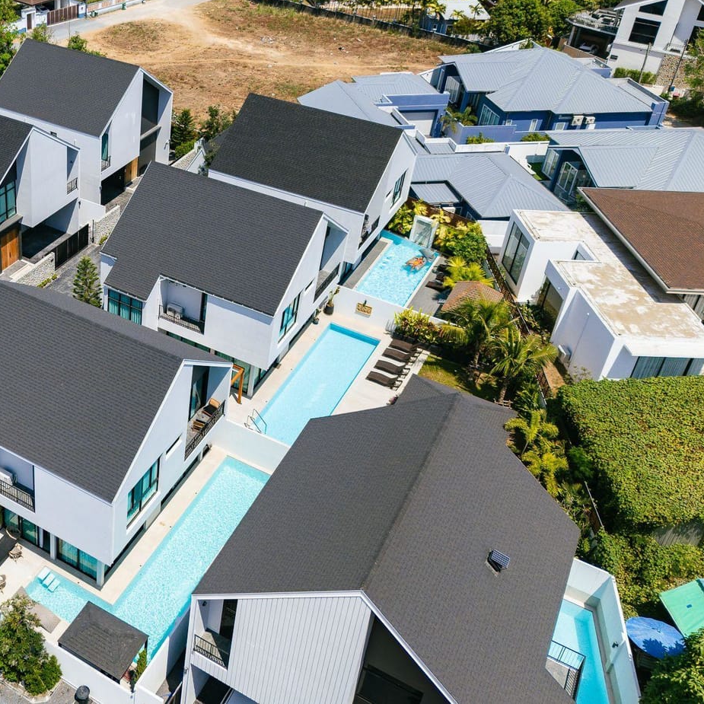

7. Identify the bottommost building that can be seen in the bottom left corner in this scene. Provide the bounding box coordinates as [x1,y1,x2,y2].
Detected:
[54,602,153,704]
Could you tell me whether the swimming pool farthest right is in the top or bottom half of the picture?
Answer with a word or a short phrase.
bottom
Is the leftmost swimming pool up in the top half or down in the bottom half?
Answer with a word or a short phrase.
bottom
